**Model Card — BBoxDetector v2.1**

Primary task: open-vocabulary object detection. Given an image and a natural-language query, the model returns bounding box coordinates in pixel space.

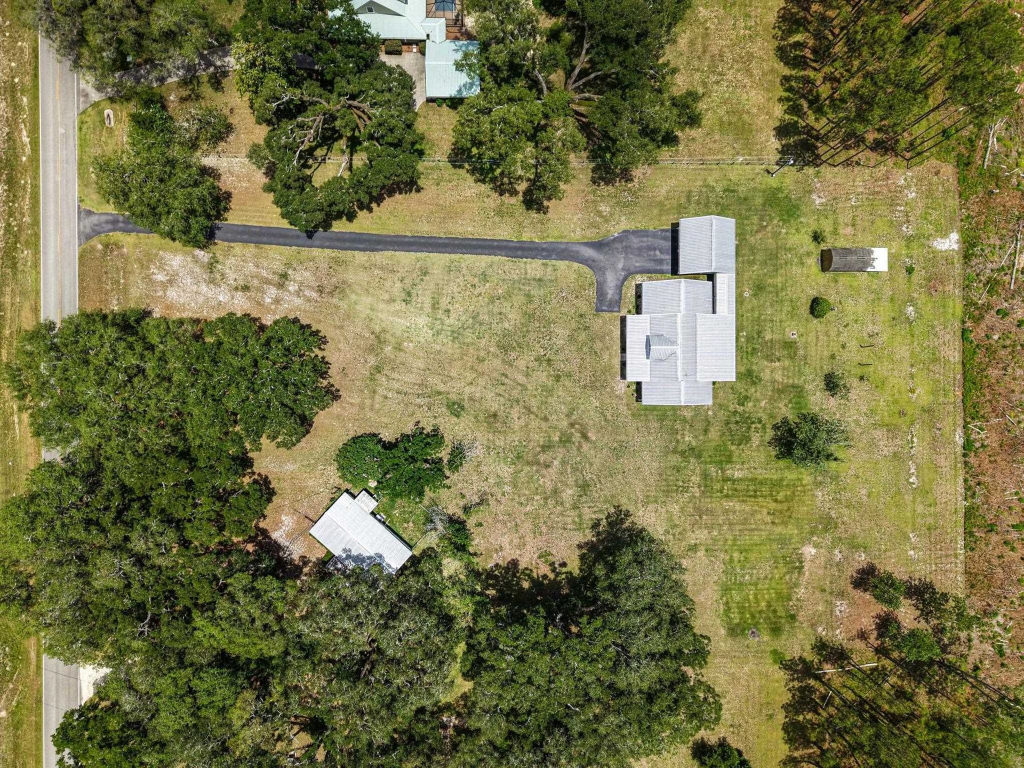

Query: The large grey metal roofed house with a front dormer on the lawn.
[623,273,736,405]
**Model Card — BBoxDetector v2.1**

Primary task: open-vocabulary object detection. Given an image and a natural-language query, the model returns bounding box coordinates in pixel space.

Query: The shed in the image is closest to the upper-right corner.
[821,248,890,274]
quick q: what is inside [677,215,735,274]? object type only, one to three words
building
